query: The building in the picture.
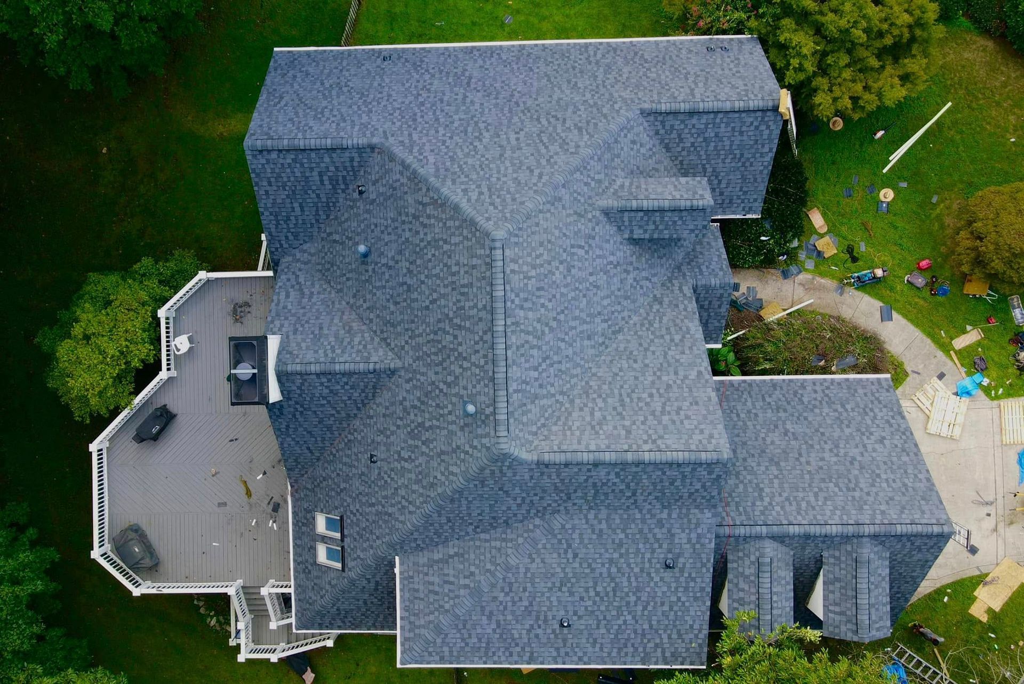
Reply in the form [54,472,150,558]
[229,33,954,670]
